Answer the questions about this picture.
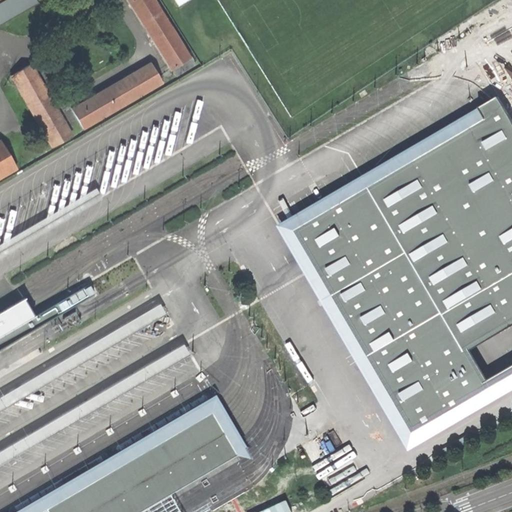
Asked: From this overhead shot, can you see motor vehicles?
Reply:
Yes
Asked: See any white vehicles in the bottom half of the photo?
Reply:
Yes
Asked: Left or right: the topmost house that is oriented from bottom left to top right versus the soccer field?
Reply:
to the left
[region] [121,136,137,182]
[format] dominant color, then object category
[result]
white vehicle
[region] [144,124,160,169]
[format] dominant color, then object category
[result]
white vehicle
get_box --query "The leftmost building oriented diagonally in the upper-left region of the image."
[11,66,74,148]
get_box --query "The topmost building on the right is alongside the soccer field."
[279,97,512,451]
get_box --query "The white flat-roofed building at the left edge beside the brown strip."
[0,298,38,344]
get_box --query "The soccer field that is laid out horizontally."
[158,0,500,137]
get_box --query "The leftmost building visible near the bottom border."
[17,396,252,512]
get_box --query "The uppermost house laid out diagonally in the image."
[128,0,194,74]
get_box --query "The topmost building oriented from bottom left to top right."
[73,62,164,130]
